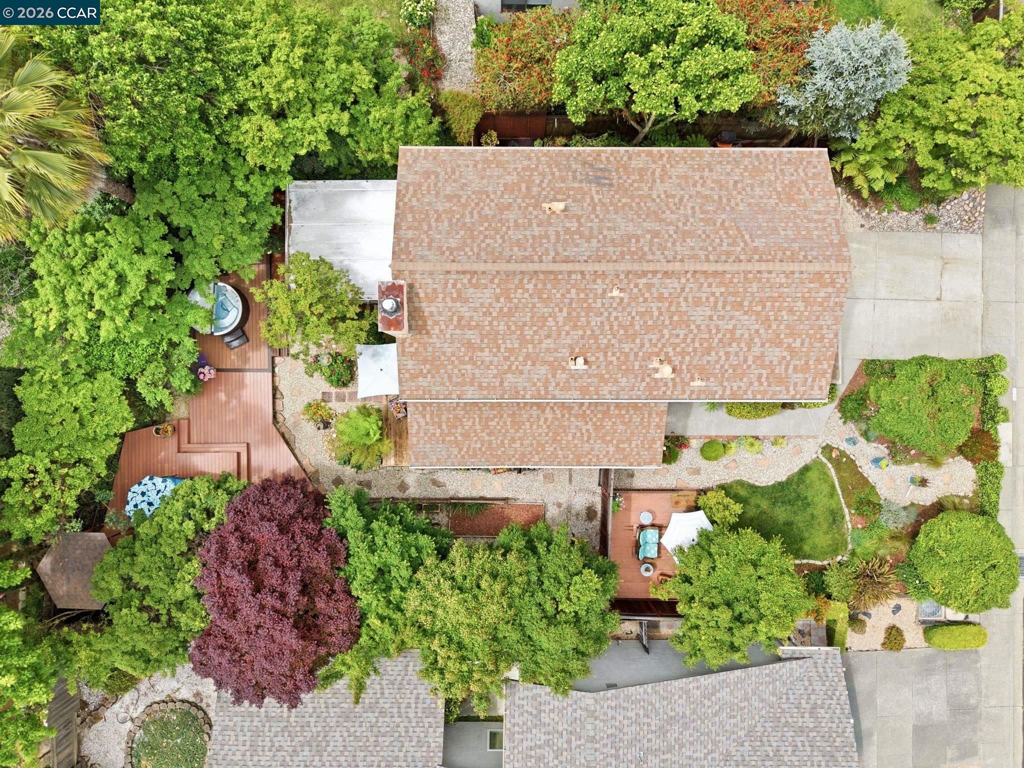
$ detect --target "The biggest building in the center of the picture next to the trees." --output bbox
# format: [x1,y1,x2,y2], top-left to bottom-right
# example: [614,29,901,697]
[378,146,855,471]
